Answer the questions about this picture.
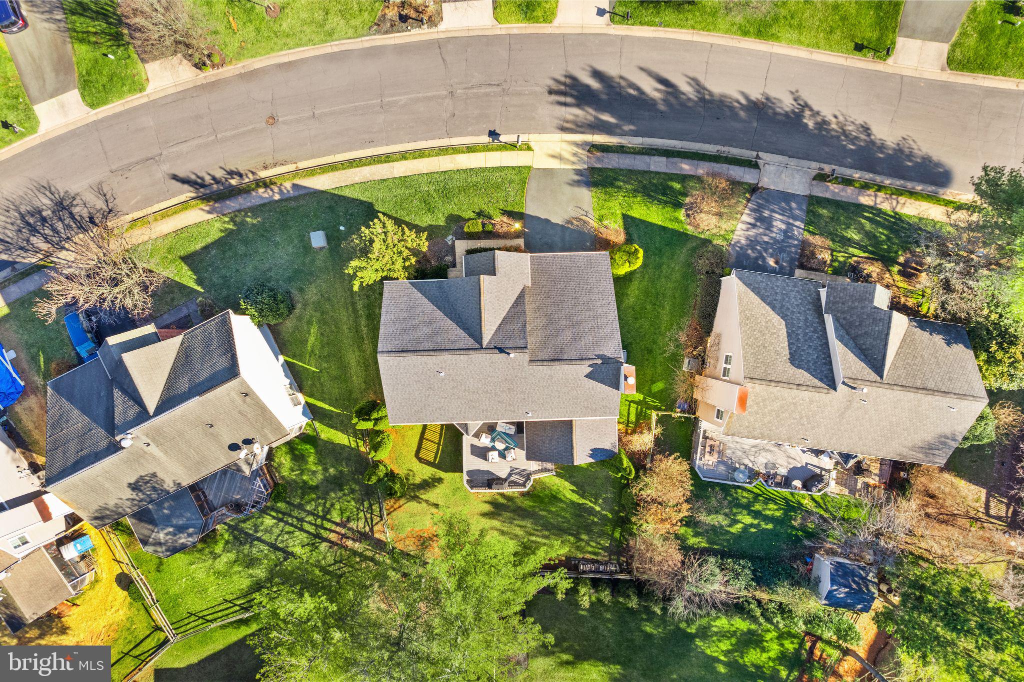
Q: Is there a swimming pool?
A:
No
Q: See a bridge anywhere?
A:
No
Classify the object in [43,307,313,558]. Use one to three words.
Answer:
house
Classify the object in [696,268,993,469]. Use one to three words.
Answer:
house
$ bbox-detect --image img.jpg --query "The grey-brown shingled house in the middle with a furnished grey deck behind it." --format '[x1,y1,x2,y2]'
[375,249,634,466]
